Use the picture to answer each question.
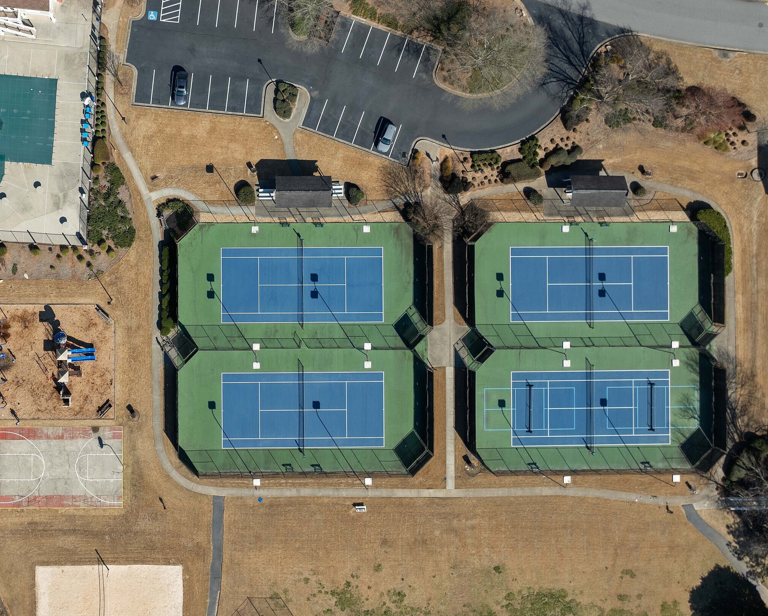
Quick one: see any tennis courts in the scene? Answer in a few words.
Yes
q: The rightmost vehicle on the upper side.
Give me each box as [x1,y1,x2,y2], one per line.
[377,121,398,154]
